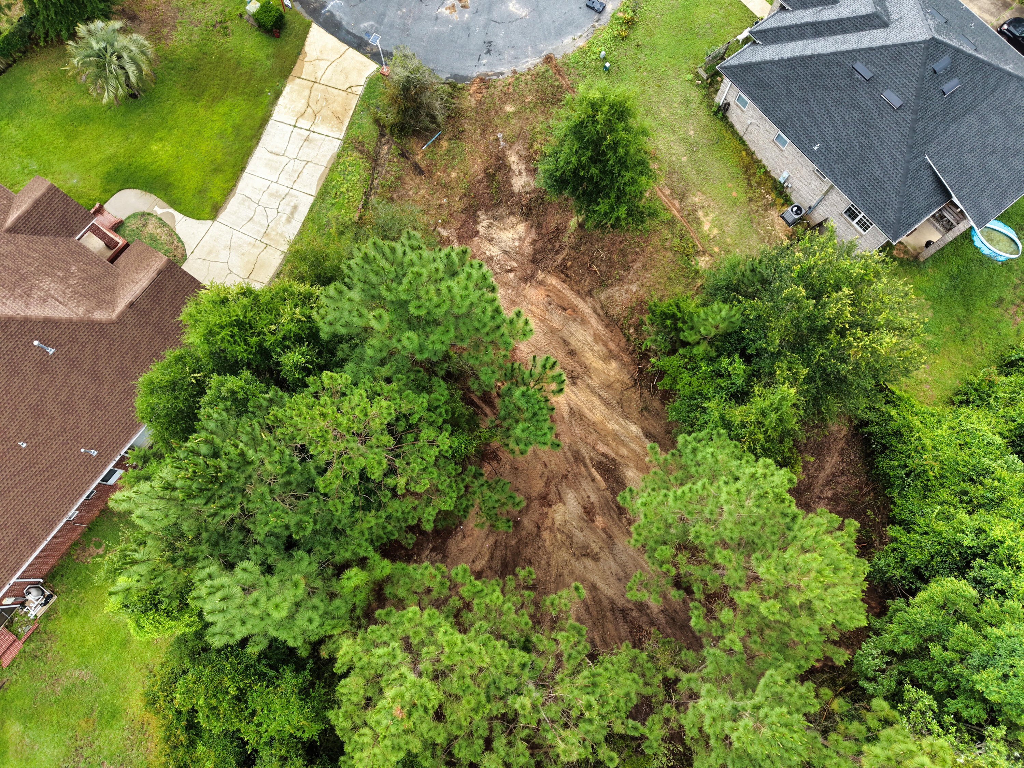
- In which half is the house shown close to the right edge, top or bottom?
top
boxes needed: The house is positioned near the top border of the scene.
[717,0,1024,270]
